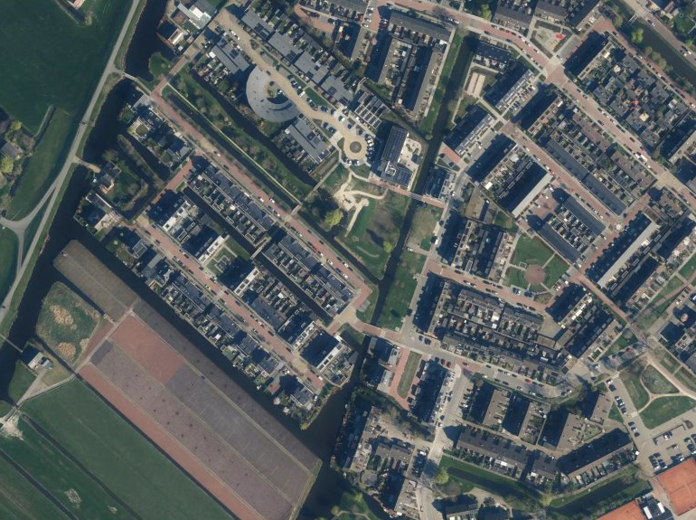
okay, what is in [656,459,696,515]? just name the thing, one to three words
tennis court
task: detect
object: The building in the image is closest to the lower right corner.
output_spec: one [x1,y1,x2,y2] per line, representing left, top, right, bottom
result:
[642,494,672,520]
